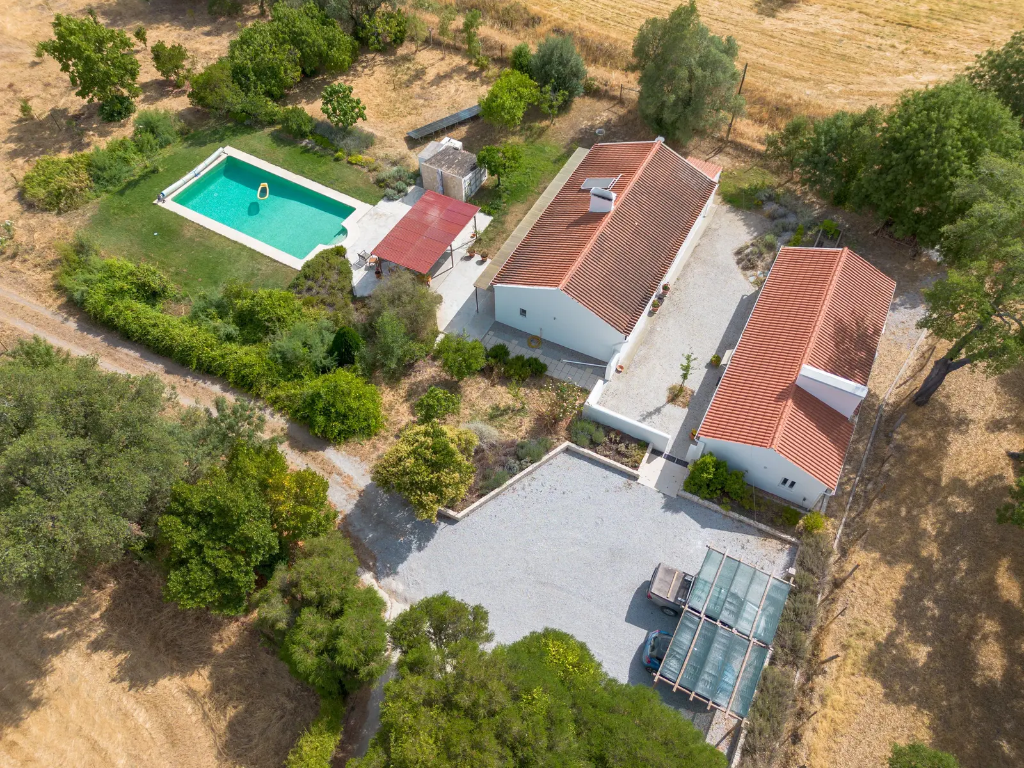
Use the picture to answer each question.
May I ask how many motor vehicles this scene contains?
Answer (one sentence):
My tally gives 2 motor vehicles in this view.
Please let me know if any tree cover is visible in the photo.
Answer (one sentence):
Yes, there's tree cover in this view.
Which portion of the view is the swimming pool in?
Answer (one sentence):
Look in the top left portion of the view to spot the swimming pool.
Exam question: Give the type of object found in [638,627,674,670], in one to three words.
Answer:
car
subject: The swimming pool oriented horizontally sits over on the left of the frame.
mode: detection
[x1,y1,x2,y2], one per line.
[160,150,366,264]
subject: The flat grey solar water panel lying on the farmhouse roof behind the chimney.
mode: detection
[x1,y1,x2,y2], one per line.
[580,170,631,192]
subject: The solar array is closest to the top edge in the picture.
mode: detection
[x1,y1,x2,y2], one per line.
[407,105,487,146]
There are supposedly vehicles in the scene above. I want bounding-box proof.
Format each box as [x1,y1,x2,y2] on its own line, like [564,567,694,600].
[638,627,674,670]
[644,563,743,635]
